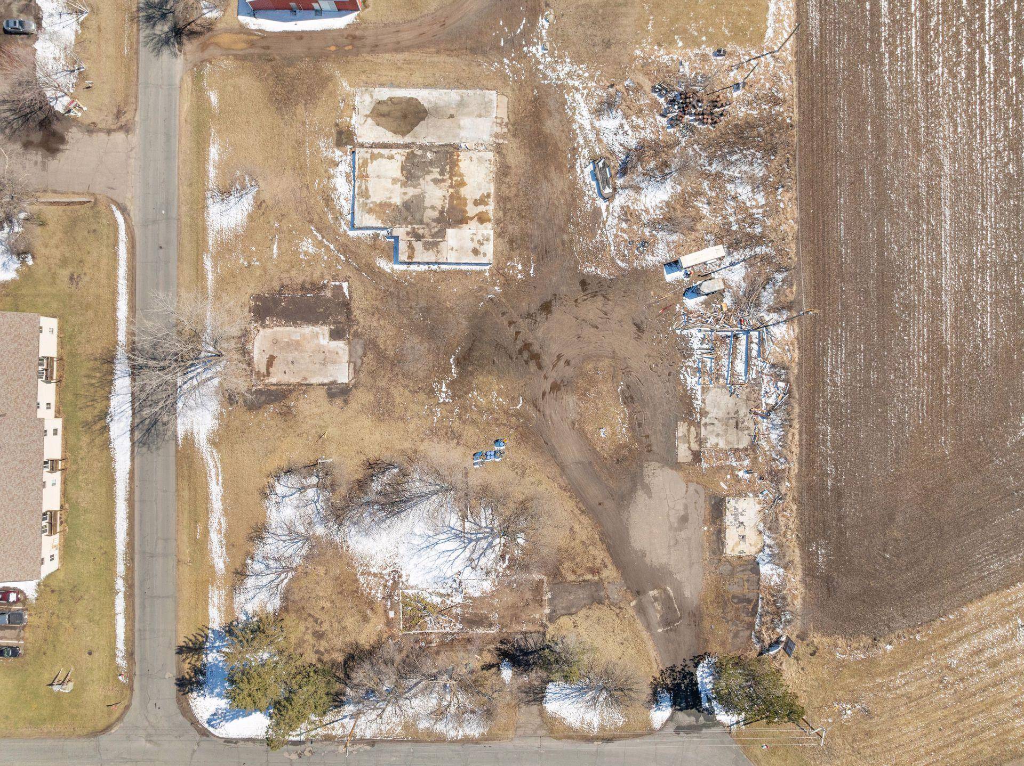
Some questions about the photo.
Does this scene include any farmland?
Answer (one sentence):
Yes, there is farmland in the image.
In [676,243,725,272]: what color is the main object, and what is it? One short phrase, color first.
white trailer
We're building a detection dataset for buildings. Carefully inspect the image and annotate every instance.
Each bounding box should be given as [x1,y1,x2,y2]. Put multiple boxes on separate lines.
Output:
[244,0,361,17]
[0,310,69,585]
